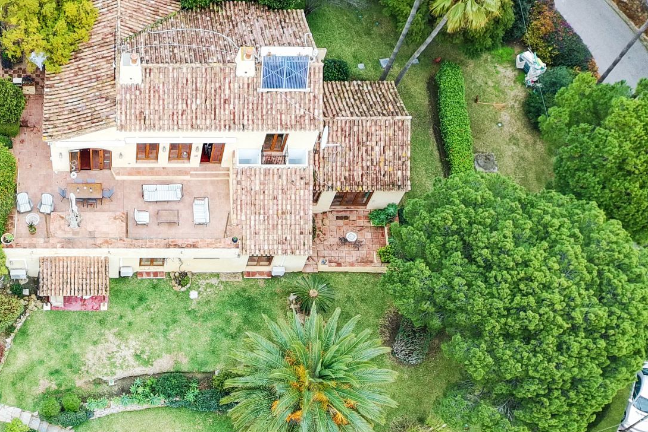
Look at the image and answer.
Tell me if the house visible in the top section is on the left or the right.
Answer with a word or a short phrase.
left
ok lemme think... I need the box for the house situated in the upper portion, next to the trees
[3,0,412,285]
